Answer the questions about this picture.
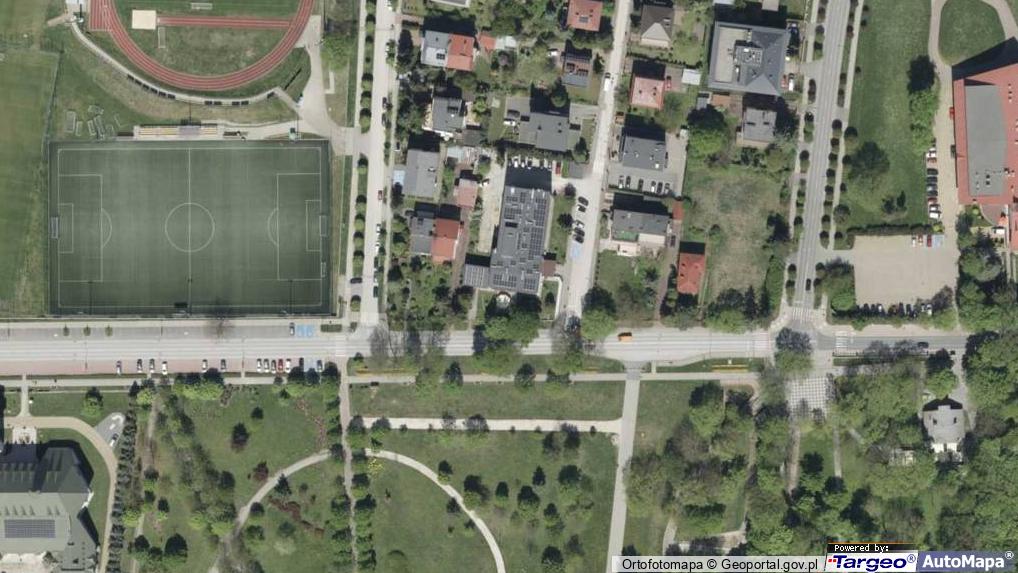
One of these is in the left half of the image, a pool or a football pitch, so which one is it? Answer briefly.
football pitch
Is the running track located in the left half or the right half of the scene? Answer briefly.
left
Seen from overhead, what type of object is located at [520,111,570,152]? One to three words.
house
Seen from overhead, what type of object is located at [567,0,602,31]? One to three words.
house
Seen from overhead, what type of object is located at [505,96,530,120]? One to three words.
building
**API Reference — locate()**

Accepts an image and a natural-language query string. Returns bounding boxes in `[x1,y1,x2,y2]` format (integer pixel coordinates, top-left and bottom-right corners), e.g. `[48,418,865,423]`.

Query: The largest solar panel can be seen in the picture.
[5,519,55,538]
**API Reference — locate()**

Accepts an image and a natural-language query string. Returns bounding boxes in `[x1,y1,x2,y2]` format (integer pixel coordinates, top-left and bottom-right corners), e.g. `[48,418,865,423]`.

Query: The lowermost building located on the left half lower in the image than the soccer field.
[0,447,98,573]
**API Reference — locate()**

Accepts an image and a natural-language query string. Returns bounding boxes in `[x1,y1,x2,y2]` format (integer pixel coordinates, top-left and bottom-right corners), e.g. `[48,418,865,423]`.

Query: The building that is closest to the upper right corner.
[953,64,1018,206]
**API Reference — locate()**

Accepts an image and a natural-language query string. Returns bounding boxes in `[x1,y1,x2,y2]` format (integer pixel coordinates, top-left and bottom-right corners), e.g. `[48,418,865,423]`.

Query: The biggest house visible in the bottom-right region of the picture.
[923,404,965,444]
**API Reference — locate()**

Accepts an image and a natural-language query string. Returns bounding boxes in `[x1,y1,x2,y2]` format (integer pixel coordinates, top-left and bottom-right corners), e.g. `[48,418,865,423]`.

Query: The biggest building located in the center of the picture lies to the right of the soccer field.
[491,185,551,295]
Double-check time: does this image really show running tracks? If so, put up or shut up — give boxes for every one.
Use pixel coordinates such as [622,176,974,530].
[89,0,314,91]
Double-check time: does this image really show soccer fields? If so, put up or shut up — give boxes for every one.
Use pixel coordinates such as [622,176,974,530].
[50,140,330,316]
